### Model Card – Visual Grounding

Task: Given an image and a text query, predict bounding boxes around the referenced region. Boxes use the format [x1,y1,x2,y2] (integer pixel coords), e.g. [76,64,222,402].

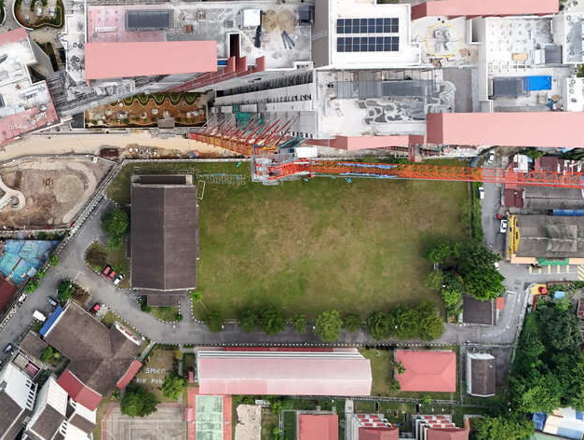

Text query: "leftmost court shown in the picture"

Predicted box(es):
[105,404,186,440]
